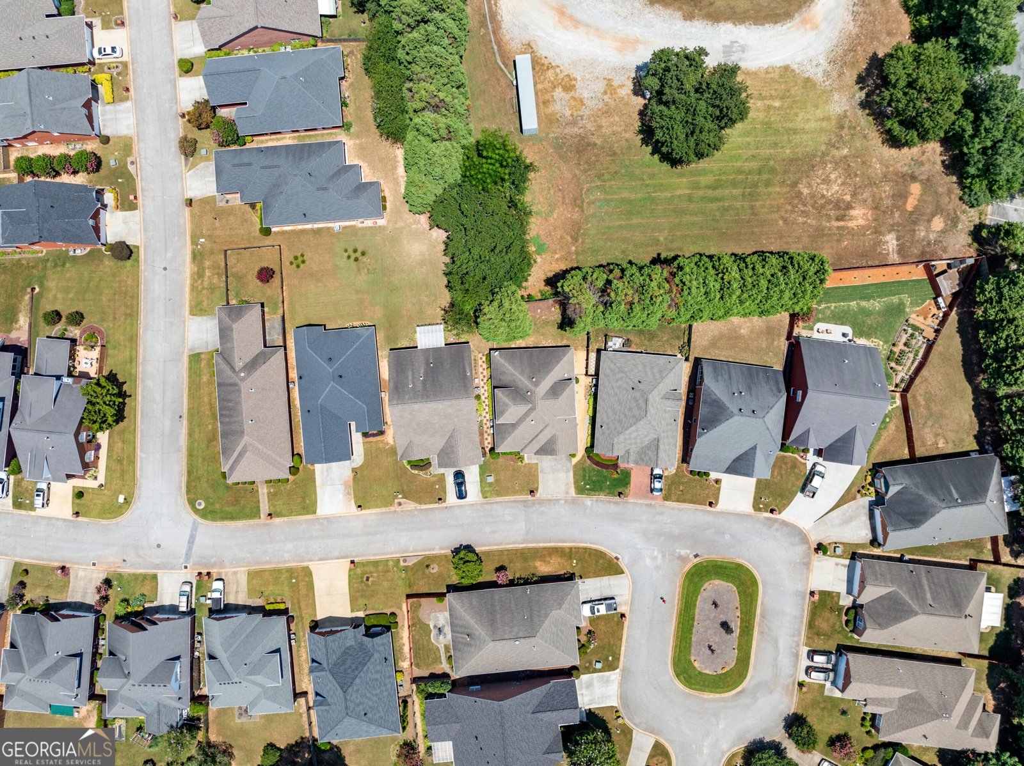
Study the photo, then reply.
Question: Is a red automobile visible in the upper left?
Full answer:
No, no red automobile appears in the upper left.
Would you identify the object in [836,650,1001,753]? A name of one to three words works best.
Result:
house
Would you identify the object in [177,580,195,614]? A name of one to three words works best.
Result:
car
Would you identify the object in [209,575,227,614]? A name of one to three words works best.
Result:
vehicle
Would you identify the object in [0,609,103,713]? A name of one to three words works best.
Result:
house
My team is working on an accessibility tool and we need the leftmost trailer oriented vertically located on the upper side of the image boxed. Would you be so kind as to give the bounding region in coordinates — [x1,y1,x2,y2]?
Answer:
[515,54,537,135]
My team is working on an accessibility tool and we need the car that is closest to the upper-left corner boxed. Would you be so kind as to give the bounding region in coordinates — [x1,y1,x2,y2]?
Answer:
[92,44,124,60]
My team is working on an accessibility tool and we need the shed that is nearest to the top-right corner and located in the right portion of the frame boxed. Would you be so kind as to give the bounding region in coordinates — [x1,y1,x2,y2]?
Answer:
[927,269,962,298]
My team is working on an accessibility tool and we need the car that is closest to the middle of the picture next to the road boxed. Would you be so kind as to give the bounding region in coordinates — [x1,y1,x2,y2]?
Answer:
[452,471,467,501]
